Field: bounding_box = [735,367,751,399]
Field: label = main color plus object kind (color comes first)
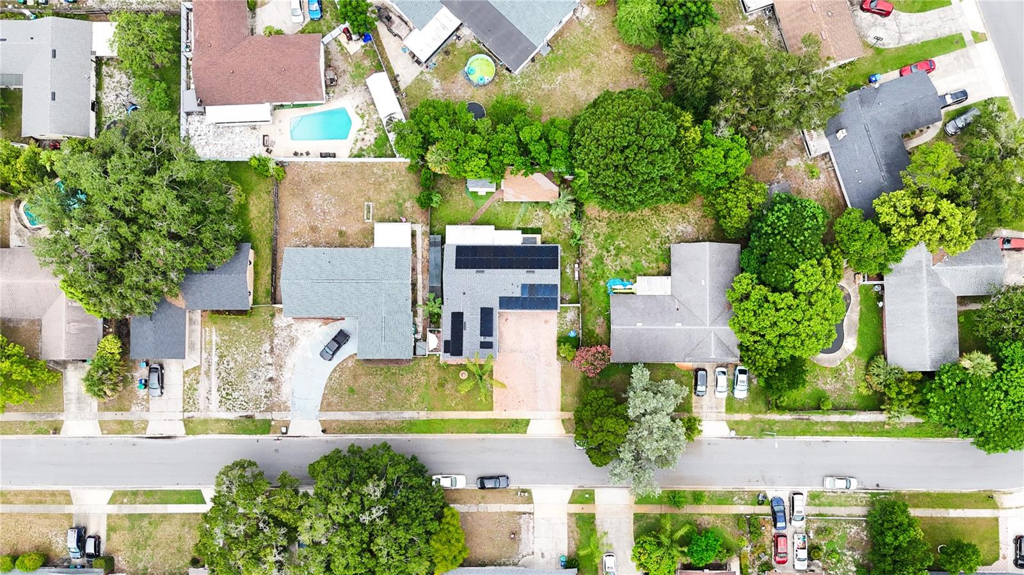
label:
white car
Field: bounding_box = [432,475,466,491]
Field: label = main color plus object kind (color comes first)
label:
white car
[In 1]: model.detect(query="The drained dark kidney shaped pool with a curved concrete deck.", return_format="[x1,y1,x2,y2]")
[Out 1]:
[797,271,860,366]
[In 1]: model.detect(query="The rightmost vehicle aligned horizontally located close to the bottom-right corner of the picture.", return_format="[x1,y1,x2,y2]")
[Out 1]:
[825,477,859,493]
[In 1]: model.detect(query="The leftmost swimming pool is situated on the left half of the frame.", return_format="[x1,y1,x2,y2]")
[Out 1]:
[10,167,101,247]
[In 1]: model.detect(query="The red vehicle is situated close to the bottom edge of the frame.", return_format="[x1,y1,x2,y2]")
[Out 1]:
[774,534,791,565]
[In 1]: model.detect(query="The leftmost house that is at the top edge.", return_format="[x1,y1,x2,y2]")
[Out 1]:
[0,15,128,138]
